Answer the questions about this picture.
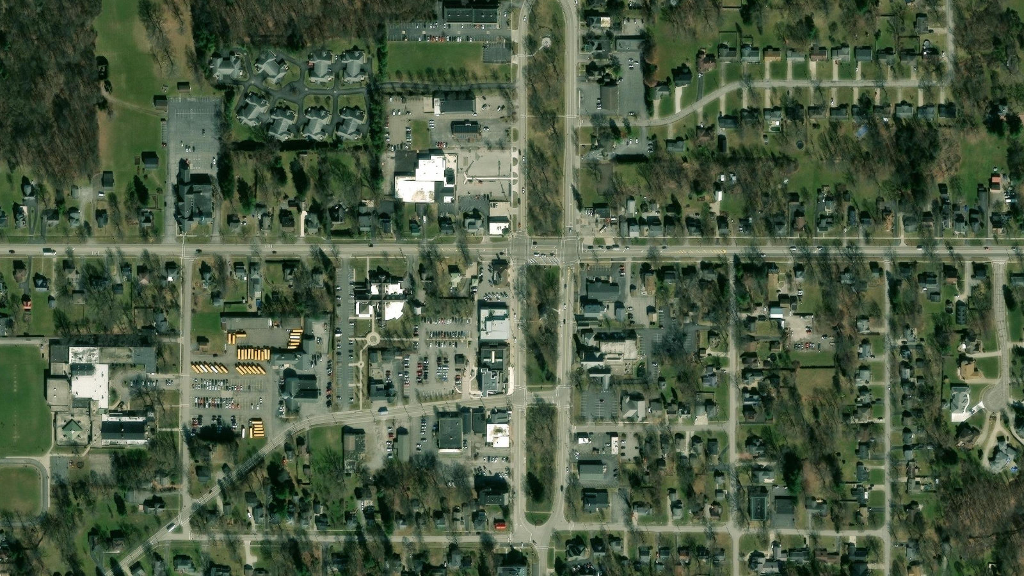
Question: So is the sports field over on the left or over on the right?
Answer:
left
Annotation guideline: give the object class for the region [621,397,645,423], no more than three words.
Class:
house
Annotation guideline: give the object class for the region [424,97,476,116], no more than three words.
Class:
building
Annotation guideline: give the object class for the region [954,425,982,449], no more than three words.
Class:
house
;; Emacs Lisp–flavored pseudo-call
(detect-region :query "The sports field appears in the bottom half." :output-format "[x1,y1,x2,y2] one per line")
[0,346,51,456]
